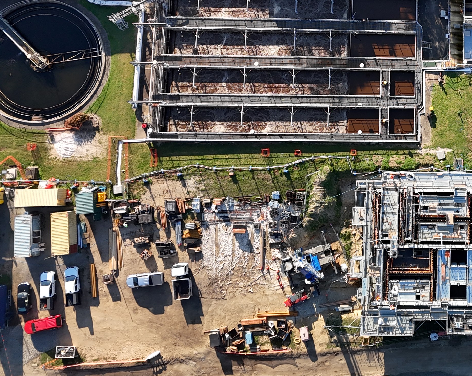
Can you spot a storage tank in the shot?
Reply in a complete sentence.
Yes, looking at the shot, I can spot a storage tank.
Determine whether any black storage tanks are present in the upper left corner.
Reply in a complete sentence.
Yes, a black storage tank can be seen in the upper left corner.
